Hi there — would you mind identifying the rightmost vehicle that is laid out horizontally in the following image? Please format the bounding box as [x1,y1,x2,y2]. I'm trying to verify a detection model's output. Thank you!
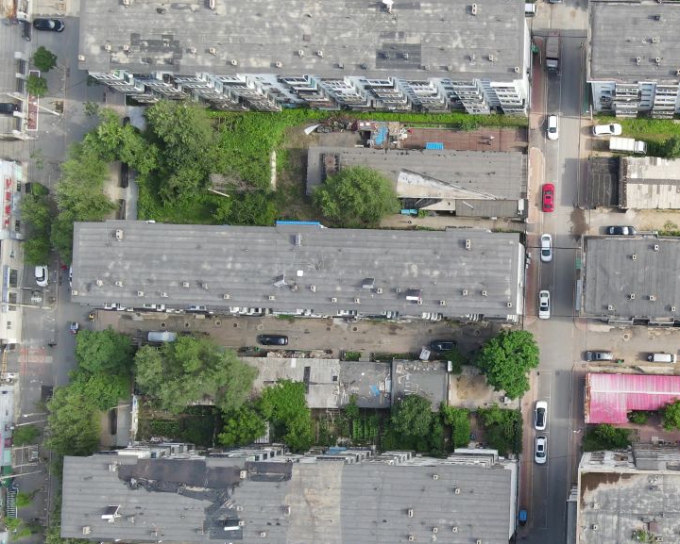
[649,350,676,363]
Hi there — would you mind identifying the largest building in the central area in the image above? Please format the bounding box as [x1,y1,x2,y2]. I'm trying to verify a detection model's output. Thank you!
[71,217,530,327]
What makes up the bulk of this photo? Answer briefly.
buildings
